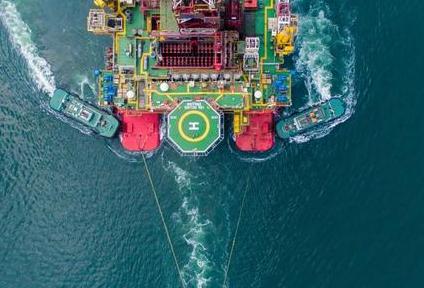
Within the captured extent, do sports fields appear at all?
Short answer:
No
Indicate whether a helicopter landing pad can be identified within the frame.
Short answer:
Yes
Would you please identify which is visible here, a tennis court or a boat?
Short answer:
boat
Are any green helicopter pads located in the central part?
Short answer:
Yes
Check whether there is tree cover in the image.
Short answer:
No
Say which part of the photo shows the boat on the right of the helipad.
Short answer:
right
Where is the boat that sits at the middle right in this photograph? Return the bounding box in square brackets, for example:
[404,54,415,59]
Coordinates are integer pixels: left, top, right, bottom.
[276,97,347,141]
